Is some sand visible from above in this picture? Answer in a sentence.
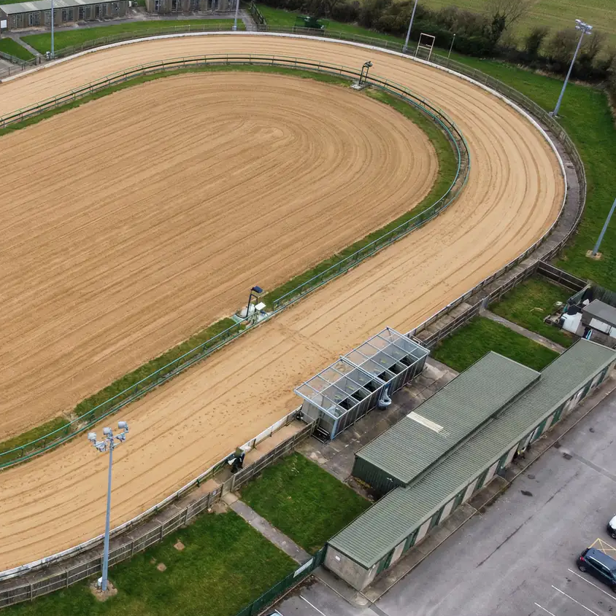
Yes, there's sand in this view.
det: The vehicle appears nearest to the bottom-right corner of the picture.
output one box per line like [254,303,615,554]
[577,544,616,587]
